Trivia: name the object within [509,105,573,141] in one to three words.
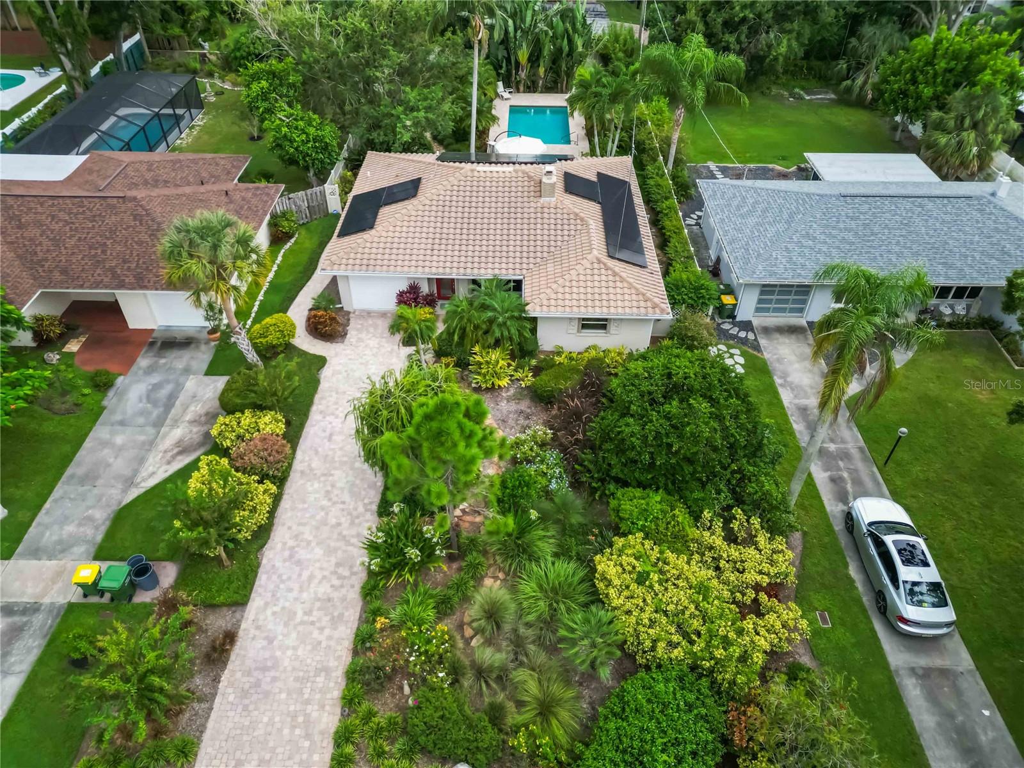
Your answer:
swimming pool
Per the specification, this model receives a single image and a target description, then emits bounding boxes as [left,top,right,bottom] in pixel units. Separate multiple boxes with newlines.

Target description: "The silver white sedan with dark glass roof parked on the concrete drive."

[844,502,964,641]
